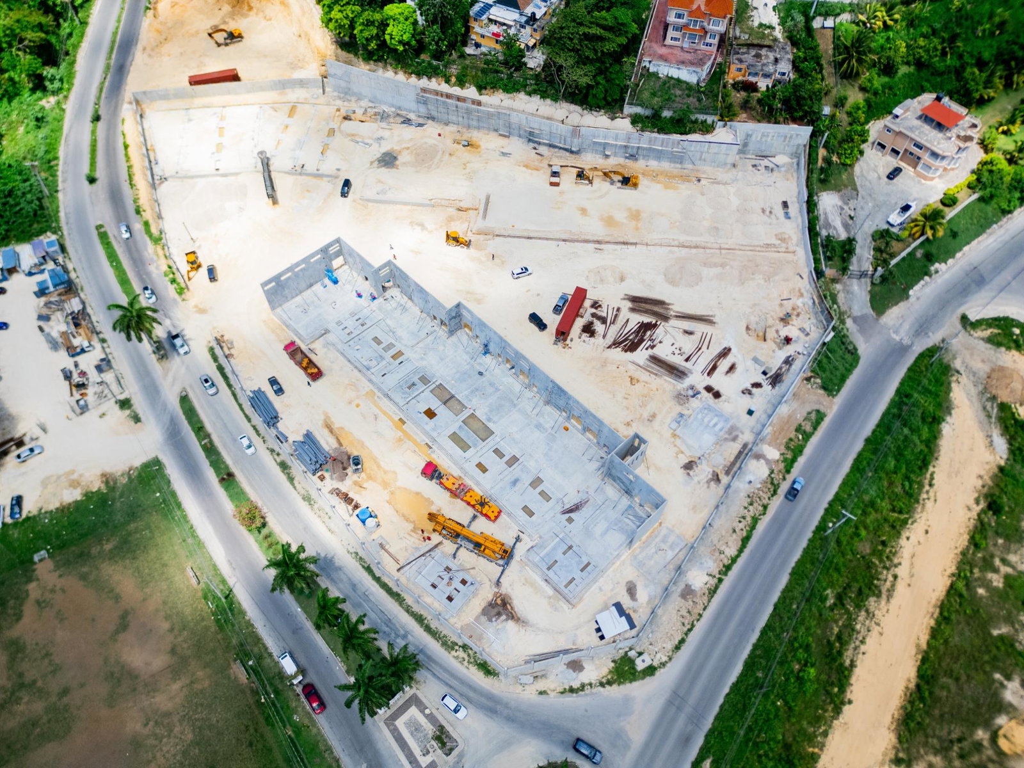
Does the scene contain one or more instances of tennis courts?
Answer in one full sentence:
No, the picture doesn't show any tennis court.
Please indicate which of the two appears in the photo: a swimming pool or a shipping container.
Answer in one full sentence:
The one in the frame is a shipping container.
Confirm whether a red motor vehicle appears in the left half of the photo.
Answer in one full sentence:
Yes, I can see a red motor vehicle in the left half of the photo.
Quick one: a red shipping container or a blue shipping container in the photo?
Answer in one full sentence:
The image shows a red shipping container.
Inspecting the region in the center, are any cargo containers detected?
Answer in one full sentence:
Yes, in the center there is a cargo container.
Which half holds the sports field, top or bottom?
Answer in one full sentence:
The sports field is in the bottom half of the image.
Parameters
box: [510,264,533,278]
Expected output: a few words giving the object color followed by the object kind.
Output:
white car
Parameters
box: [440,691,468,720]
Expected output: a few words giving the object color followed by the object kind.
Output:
white car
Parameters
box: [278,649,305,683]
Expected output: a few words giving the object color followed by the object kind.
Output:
white vehicle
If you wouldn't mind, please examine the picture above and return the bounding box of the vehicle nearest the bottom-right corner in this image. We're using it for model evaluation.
[786,474,807,501]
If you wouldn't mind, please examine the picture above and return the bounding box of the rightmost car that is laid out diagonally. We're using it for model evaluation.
[887,164,904,178]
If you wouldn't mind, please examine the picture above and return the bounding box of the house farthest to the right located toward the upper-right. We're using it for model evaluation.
[874,92,984,178]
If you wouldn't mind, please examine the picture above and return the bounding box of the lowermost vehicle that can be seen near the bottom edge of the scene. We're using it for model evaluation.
[572,734,604,765]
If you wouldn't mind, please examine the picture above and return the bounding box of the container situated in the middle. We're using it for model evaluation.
[556,285,588,342]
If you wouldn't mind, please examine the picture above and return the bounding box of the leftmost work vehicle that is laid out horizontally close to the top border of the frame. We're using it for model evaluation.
[211,25,245,43]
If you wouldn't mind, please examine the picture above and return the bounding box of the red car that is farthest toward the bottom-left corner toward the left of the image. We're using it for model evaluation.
[299,680,326,716]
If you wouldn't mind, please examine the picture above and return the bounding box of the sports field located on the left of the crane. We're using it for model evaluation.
[0,459,327,768]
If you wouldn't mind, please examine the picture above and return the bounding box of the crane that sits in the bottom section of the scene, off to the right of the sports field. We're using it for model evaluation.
[422,518,523,588]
